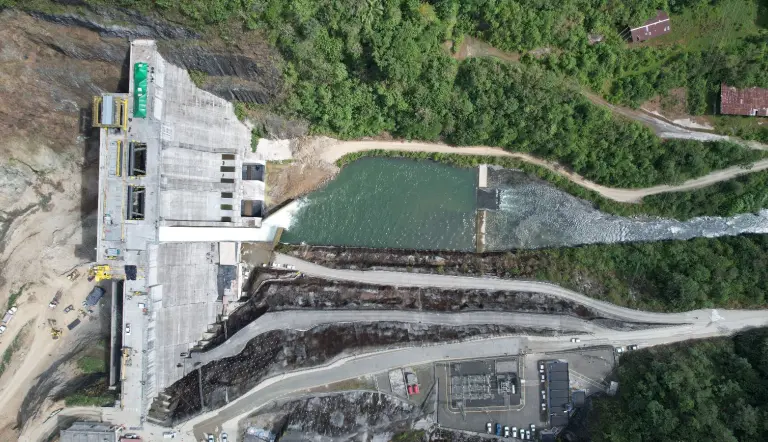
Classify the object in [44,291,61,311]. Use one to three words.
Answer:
vehicle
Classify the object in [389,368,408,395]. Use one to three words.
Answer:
shed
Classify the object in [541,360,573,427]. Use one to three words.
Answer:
building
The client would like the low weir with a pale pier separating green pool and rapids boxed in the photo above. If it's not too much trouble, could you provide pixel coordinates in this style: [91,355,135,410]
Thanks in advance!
[476,164,498,254]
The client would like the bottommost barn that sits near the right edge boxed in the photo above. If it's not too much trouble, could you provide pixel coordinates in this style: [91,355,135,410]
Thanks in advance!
[715,85,768,119]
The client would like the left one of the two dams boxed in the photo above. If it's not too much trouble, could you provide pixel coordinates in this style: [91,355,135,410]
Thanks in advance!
[96,41,268,430]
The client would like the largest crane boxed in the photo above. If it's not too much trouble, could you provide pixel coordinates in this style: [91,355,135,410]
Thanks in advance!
[92,94,134,134]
